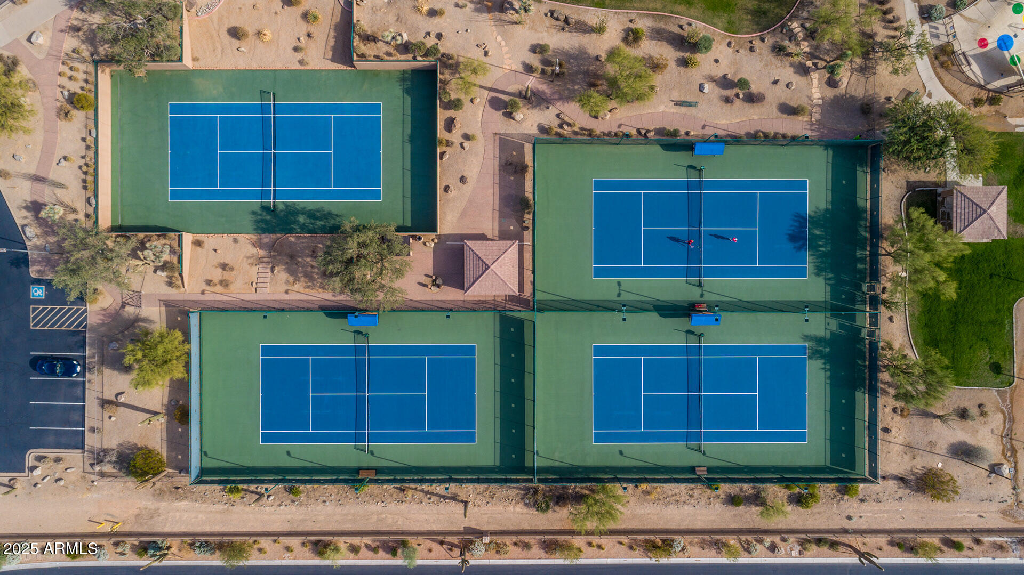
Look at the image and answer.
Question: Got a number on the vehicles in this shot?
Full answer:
I count just 1 vehicle.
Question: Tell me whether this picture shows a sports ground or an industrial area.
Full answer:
What you see here is a sports ground.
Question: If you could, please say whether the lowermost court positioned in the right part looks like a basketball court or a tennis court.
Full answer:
The lowermost court positioned in the right part is a tennis court.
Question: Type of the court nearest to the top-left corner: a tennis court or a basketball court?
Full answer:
From above, the court nearest to the top-left corner can be identified as a tennis court.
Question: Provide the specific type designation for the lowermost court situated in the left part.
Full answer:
The lowermost court situated in the left part in the image is a tennis court.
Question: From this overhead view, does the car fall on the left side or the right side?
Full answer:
It is on the left.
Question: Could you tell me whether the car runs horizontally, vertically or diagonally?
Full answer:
Seen from above, the car lies horizontally.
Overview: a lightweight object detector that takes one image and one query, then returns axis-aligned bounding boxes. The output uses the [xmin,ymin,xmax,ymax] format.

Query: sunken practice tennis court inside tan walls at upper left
[111,70,437,234]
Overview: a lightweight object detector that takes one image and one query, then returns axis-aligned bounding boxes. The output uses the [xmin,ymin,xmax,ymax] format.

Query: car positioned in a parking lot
[37,358,81,378]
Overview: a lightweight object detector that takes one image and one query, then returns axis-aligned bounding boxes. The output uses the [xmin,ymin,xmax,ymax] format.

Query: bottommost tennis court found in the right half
[534,313,865,478]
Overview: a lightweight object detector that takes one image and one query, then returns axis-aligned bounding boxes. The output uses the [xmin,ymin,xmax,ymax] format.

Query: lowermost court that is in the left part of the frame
[200,313,534,478]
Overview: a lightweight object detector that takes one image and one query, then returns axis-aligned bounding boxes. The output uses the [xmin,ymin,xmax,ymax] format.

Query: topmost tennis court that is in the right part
[535,143,865,311]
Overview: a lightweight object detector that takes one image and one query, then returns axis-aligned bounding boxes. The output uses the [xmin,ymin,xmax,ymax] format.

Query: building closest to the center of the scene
[446,240,530,295]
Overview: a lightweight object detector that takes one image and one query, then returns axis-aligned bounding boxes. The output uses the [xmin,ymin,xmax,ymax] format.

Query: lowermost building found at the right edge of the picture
[944,185,1008,240]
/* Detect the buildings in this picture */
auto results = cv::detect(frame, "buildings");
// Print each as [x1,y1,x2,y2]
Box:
[446,240,530,295]
[944,185,1008,240]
